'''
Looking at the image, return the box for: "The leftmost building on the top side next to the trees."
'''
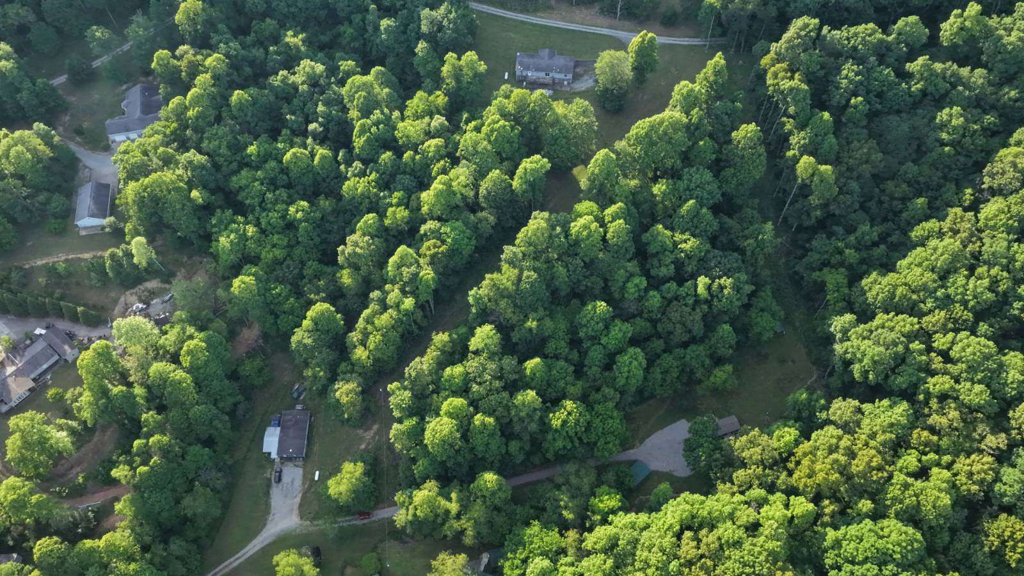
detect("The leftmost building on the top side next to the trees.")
[71,181,114,236]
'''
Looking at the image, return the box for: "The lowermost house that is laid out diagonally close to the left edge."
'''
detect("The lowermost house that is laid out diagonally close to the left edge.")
[0,323,90,425]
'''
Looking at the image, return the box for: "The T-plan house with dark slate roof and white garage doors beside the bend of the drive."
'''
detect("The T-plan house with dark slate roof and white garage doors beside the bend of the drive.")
[103,78,164,133]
